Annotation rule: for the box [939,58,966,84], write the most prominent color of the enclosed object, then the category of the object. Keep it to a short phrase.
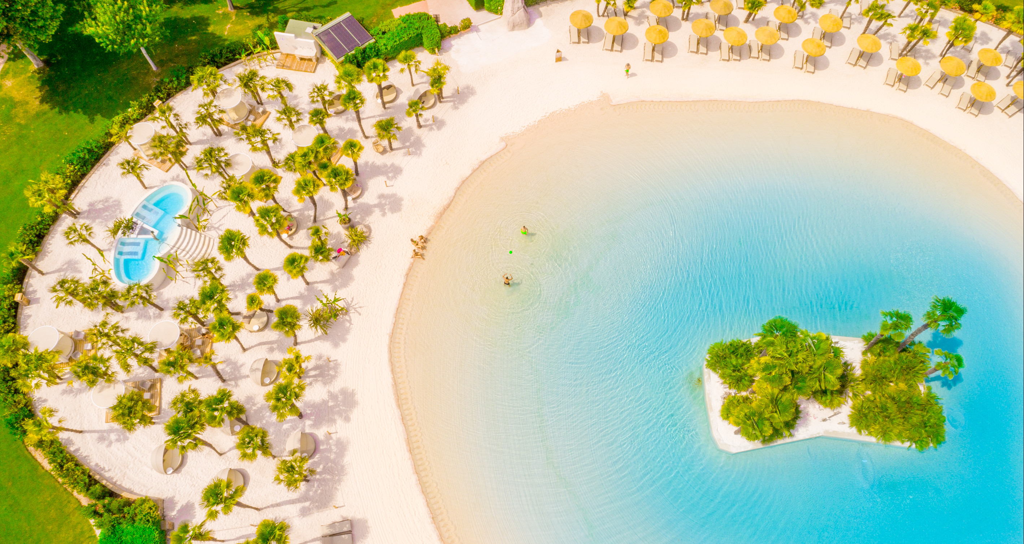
yellow umbrella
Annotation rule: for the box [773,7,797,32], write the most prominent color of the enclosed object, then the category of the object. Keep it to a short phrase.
yellow umbrella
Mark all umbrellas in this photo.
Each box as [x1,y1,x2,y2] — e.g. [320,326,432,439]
[1010,81,1024,107]
[650,1,674,26]
[773,7,797,32]
[710,0,734,22]
[722,28,747,53]
[604,18,628,44]
[569,12,593,37]
[691,20,715,45]
[939,58,966,84]
[969,83,997,109]
[801,39,826,65]
[754,28,779,53]
[644,27,669,53]
[976,49,1003,75]
[857,35,882,61]
[818,16,843,41]
[895,58,921,84]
